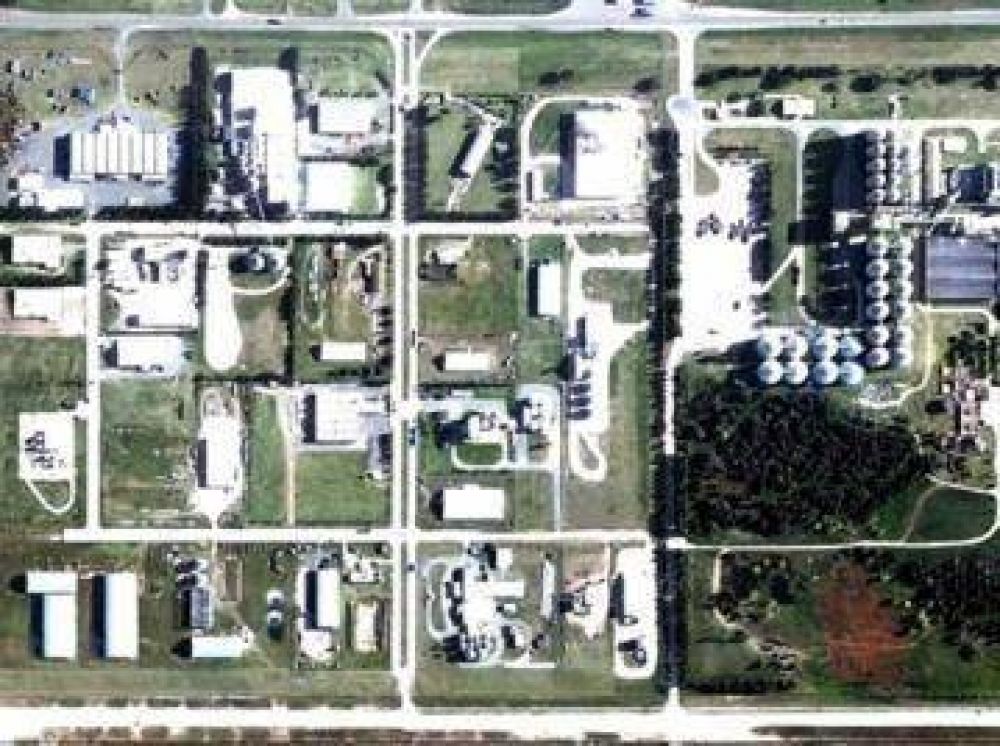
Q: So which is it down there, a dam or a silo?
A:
silo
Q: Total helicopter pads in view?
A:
zero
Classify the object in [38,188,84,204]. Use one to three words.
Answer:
shed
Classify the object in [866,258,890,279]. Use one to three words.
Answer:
silo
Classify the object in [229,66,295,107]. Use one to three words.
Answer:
building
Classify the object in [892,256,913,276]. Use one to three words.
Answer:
silo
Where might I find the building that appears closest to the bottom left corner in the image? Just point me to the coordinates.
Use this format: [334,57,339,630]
[43,593,77,658]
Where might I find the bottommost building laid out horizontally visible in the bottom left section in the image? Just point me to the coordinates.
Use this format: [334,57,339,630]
[190,637,243,658]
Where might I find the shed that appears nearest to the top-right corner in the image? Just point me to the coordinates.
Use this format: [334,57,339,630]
[944,137,968,150]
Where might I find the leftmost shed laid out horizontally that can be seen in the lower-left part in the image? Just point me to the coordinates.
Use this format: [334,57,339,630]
[25,573,77,593]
